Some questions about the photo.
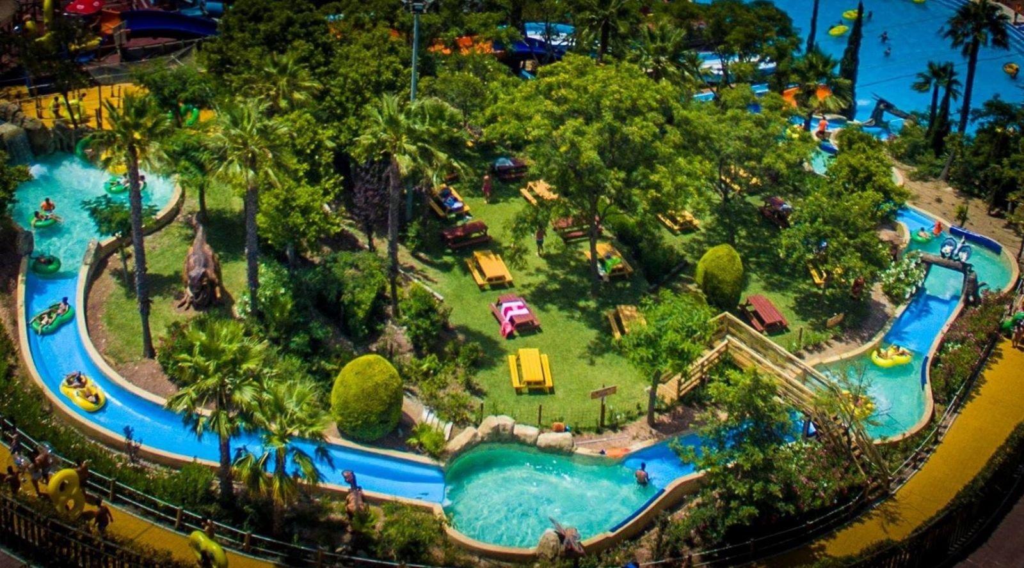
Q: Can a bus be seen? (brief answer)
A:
No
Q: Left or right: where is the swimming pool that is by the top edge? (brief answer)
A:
right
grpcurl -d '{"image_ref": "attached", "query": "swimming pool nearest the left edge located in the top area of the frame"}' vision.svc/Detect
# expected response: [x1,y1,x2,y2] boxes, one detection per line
[0,153,191,284]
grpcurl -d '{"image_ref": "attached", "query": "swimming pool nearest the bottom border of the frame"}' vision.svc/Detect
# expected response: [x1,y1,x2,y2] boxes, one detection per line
[439,441,663,549]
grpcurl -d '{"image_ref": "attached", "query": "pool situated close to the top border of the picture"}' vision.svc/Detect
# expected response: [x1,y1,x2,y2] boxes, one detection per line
[764,0,1024,164]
